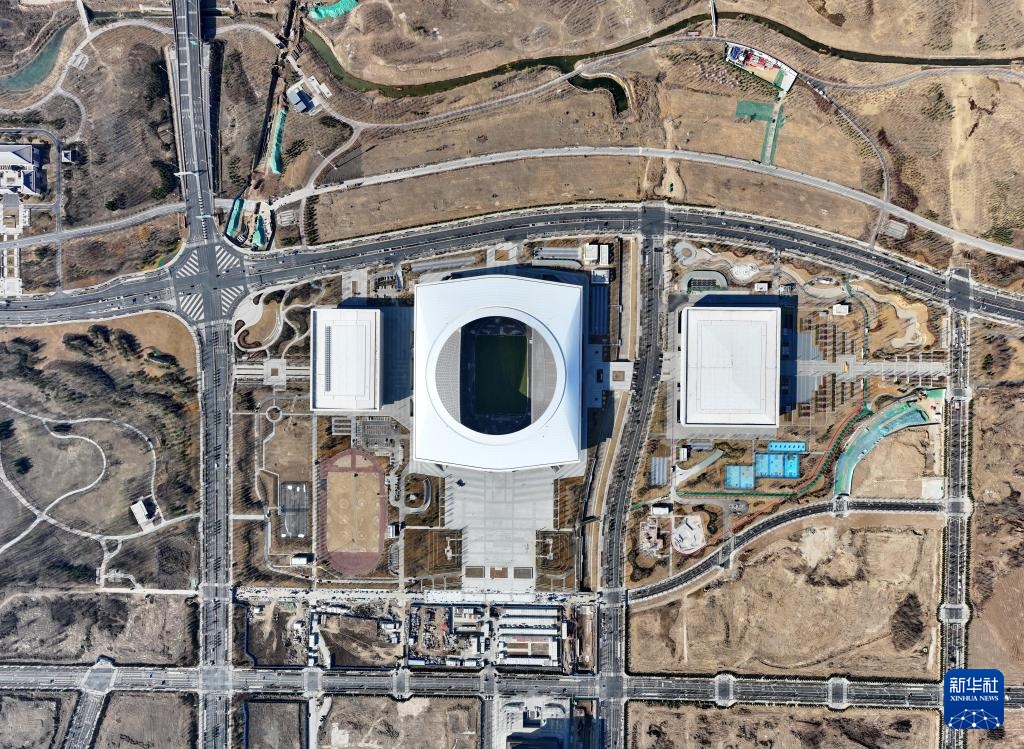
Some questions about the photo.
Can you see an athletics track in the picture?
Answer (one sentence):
Yes, I can see an athletics track in this picture.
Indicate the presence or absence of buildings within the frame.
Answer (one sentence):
Yes, a building is visible in the scene.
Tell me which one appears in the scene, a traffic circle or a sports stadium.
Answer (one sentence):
I can see a sports stadium in this picture.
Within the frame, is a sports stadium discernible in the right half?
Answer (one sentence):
Yes, you'll find a sports stadium in the right half.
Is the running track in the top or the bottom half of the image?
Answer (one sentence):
The running track sits in the bottom half of the picture.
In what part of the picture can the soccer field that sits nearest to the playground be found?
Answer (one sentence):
The soccer field that sits nearest to the playground sits in the center section of the image.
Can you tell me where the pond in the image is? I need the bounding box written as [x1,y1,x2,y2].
[0,25,68,92]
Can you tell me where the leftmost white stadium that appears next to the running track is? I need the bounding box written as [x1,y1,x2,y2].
[311,309,383,410]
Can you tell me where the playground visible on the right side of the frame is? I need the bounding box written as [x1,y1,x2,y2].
[640,517,663,557]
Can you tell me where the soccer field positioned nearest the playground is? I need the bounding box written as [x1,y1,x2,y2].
[475,336,527,416]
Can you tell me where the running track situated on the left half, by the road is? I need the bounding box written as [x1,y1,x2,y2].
[318,450,387,576]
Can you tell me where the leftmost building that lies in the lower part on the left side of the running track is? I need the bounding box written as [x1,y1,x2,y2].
[128,498,158,527]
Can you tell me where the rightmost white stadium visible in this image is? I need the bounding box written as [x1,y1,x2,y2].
[676,307,781,427]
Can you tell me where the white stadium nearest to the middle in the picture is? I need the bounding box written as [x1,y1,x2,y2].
[411,266,588,485]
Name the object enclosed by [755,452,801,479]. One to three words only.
sports court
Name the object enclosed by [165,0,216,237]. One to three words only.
overpass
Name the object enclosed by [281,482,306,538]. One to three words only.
basketball court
